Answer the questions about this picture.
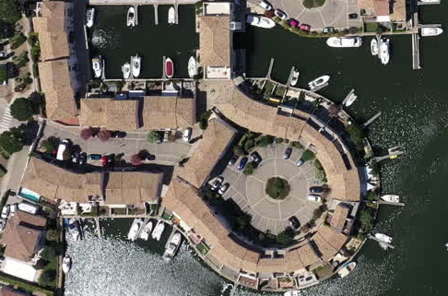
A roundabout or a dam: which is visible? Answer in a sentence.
The one in the frame is a roundabout.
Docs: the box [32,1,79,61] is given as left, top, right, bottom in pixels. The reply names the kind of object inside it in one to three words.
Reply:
house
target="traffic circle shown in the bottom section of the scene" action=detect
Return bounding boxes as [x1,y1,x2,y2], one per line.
[231,144,320,232]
